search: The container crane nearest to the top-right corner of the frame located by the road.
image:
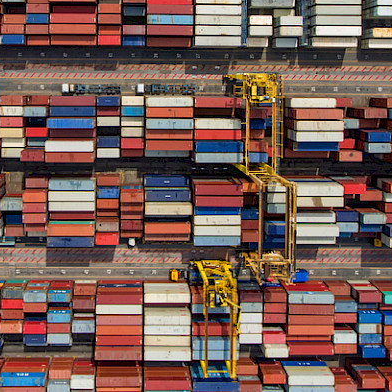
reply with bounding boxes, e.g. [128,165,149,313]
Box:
[225,68,284,176]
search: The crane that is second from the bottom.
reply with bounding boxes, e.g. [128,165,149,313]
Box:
[234,166,295,285]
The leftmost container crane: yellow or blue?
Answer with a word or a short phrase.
yellow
